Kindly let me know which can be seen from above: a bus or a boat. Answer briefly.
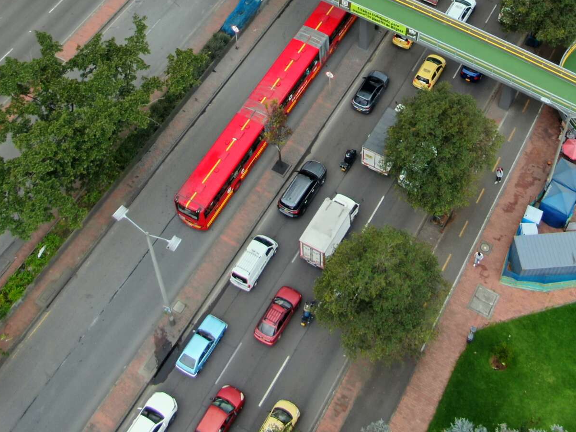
bus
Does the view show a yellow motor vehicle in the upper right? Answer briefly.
Yes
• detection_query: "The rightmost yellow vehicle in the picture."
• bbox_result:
[411,53,447,96]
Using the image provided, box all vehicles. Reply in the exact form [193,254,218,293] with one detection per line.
[411,53,447,96]
[256,395,299,432]
[442,0,477,30]
[190,383,243,432]
[461,66,484,84]
[229,233,278,296]
[175,316,226,382]
[353,102,412,185]
[296,300,315,327]
[128,391,177,432]
[390,35,413,50]
[295,191,363,279]
[177,2,352,233]
[278,162,326,220]
[251,285,302,351]
[348,71,390,120]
